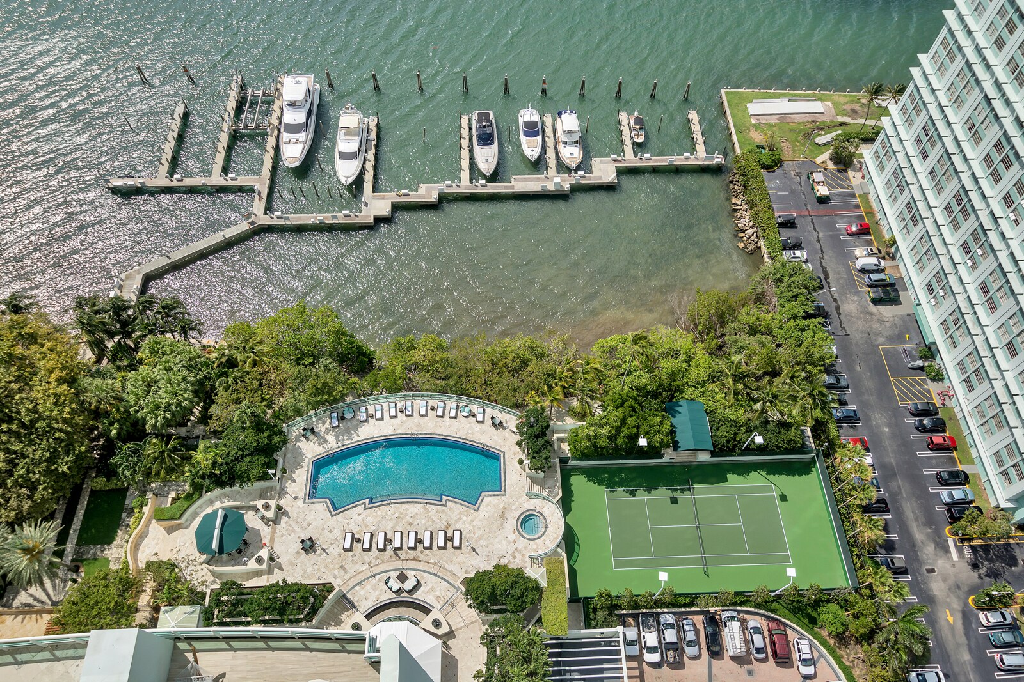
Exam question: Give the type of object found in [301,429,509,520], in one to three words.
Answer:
swimming pool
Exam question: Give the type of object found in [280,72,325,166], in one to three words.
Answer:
boat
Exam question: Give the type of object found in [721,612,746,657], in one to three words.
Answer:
vehicle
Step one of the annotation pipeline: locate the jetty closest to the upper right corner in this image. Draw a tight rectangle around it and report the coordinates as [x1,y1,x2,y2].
[686,101,707,156]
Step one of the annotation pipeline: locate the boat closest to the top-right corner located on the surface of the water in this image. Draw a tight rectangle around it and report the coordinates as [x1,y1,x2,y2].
[630,114,645,144]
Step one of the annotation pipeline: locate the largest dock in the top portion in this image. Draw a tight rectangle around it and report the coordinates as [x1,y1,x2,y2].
[104,155,724,317]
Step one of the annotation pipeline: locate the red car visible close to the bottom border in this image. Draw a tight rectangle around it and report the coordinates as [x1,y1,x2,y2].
[767,621,791,663]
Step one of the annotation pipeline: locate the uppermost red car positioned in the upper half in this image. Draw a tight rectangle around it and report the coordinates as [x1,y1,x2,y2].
[844,222,872,236]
